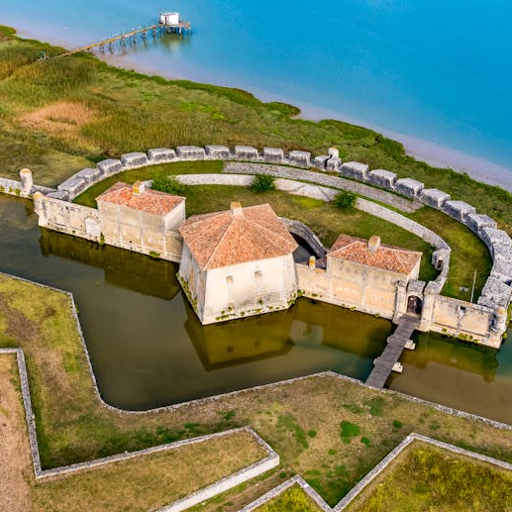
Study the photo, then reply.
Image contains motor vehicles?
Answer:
No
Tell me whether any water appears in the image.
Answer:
Yes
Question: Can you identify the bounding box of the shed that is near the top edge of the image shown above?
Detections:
[156,11,194,44]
